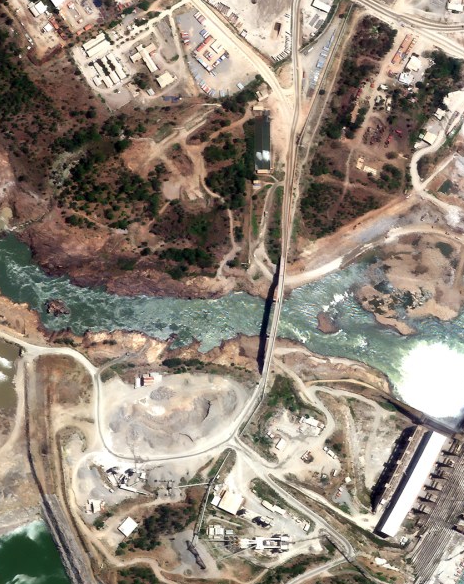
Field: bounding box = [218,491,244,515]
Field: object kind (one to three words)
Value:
building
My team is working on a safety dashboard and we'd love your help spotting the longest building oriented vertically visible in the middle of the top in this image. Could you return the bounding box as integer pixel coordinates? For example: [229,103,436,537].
[254,114,269,175]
